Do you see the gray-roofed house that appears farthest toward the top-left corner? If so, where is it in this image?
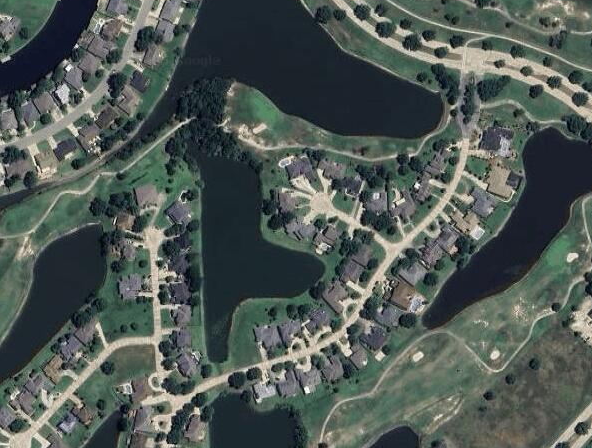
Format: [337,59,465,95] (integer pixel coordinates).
[0,12,21,40]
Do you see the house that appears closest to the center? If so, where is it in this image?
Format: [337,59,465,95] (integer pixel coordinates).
[284,216,317,238]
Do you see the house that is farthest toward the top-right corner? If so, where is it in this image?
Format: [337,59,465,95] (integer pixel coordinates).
[475,126,505,155]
